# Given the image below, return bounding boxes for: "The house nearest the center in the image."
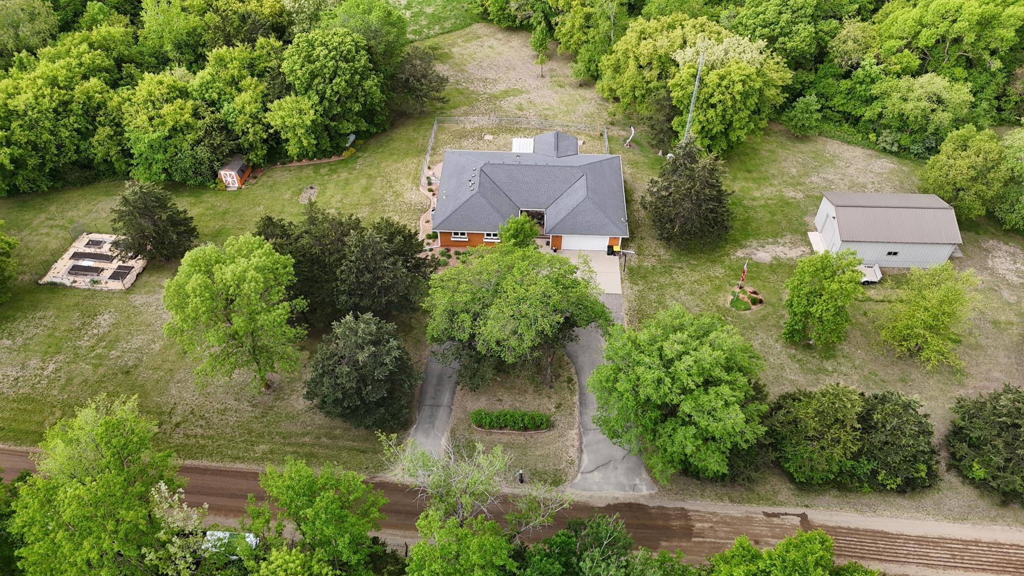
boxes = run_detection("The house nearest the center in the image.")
[431,131,635,254]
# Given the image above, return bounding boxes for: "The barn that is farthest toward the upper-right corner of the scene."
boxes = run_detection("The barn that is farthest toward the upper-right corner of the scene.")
[804,191,963,269]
